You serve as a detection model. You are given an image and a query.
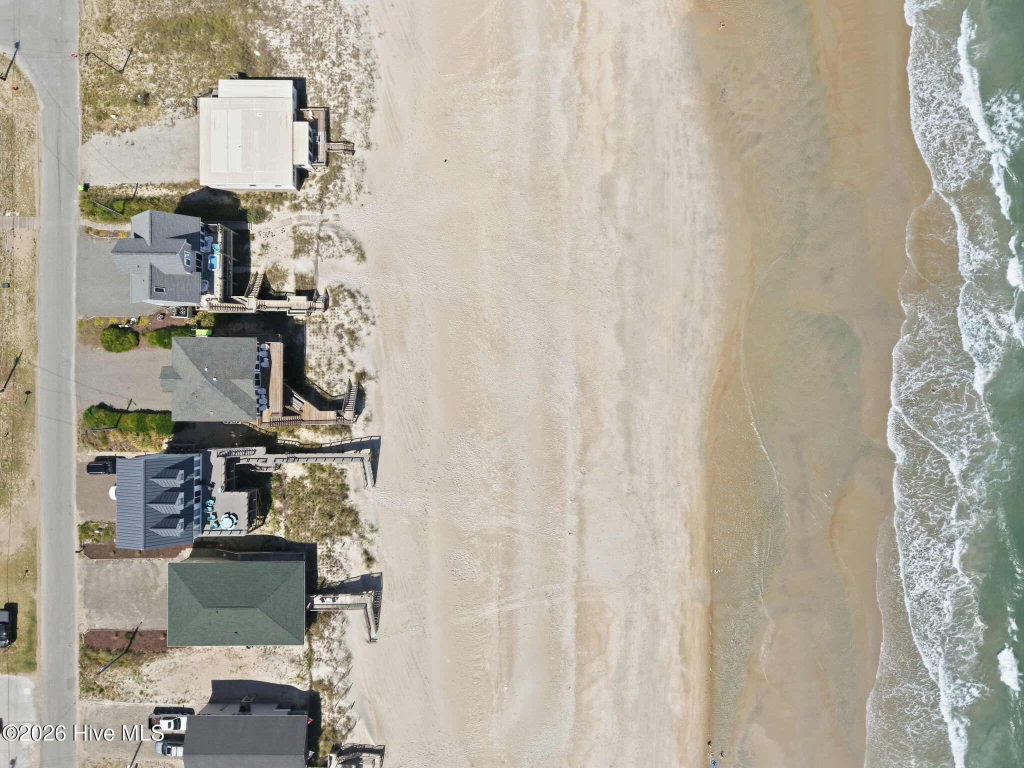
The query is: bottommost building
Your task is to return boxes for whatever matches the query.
[180,696,312,768]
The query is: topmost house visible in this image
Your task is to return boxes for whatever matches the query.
[200,80,313,192]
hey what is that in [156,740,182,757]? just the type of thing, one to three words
car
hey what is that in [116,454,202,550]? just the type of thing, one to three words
house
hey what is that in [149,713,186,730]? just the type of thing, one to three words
vehicle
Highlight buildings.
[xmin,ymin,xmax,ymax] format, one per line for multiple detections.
[167,557,310,646]
[200,80,313,192]
[111,210,220,307]
[157,336,265,422]
[180,696,312,768]
[116,454,202,550]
